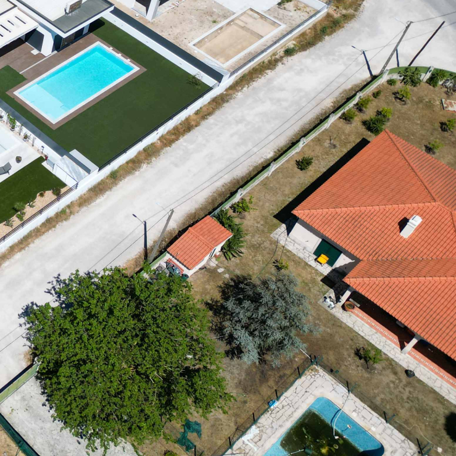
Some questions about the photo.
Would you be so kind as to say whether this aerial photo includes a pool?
Yes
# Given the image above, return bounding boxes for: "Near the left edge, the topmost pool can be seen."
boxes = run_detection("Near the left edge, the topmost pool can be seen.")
[14,41,139,124]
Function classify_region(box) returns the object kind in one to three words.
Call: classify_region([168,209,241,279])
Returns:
shed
